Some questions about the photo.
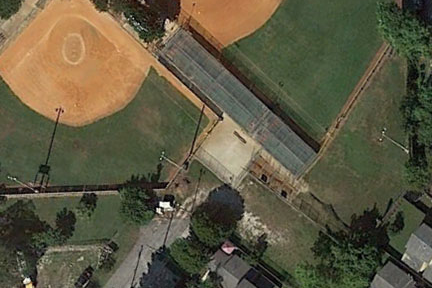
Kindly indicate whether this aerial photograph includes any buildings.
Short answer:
Yes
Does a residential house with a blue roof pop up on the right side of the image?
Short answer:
No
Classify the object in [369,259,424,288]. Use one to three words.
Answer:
house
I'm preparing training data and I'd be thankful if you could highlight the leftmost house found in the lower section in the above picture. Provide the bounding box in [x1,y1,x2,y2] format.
[217,254,252,288]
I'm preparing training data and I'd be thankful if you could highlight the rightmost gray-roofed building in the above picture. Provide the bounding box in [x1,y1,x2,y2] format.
[400,221,432,284]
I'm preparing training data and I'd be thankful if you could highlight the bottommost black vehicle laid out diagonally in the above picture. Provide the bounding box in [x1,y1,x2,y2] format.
[75,268,90,285]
